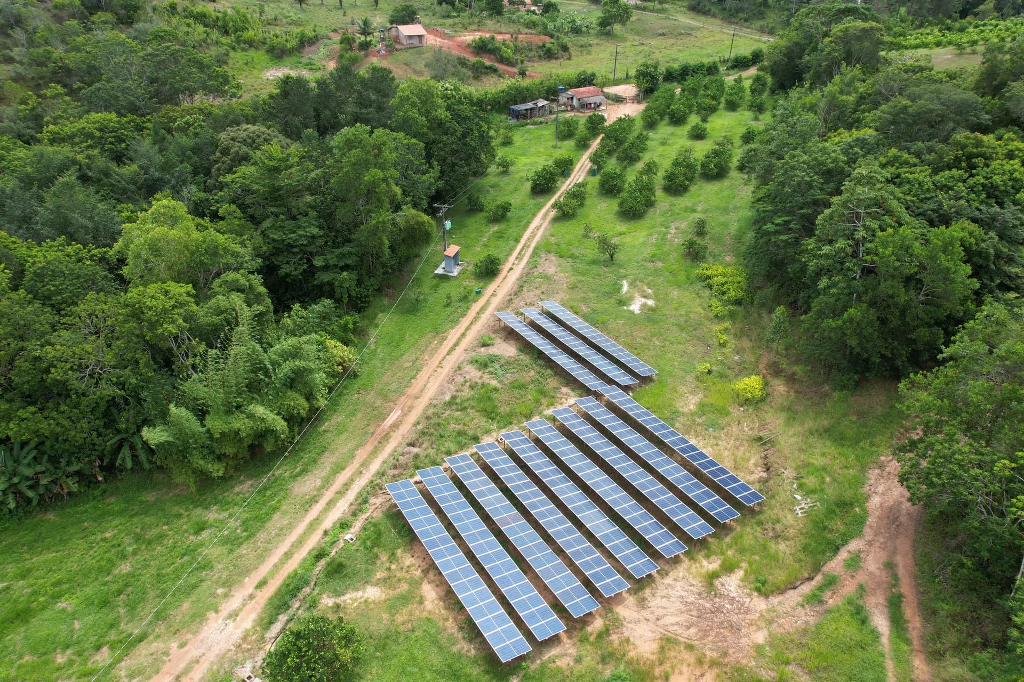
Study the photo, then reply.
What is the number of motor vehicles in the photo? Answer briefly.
none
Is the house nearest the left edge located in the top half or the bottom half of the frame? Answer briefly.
top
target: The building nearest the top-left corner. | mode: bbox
[396,22,430,50]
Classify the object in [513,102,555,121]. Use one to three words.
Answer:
shed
